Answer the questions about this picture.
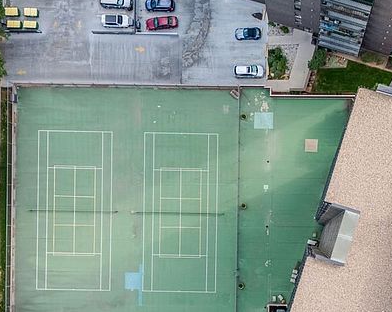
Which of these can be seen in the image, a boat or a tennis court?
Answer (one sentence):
Visible in the photo is a tennis court.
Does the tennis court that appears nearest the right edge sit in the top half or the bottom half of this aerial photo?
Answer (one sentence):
The tennis court that appears nearest the right edge is in the bottom half of the image.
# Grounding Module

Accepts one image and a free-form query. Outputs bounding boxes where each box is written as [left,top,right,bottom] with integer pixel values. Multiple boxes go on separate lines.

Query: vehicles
[101,12,132,28]
[100,0,132,10]
[234,25,262,40]
[144,0,175,12]
[146,15,179,30]
[233,62,264,78]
